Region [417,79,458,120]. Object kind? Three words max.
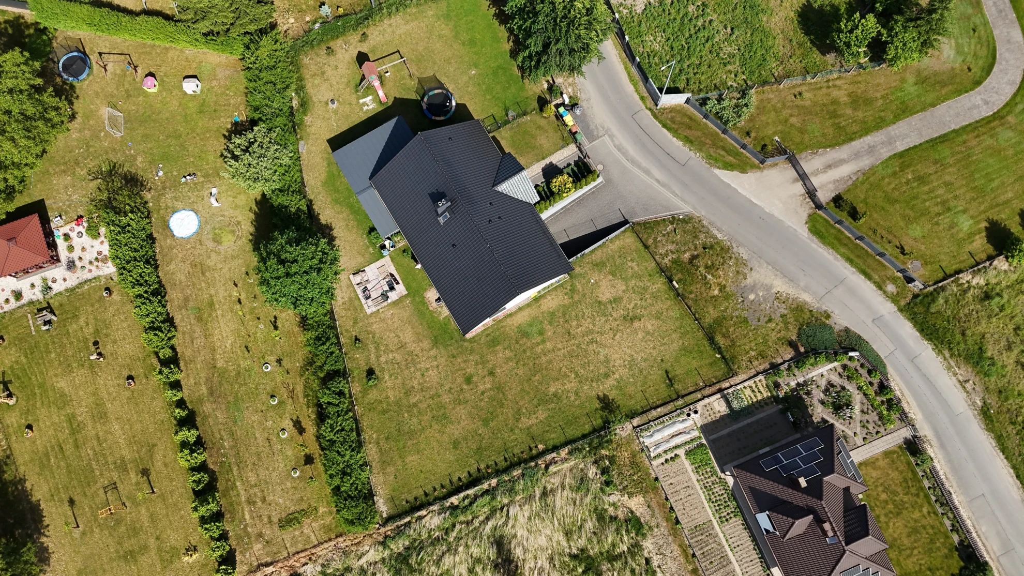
trampoline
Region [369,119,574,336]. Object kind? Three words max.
house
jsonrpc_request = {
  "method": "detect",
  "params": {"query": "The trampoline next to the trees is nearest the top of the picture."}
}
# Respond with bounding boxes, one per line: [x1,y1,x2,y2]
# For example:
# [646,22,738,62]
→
[48,41,96,86]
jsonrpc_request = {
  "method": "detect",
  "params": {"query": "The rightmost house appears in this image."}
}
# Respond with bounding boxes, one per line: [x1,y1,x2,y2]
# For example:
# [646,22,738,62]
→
[731,423,899,576]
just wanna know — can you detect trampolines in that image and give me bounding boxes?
[417,79,458,120]
[48,41,96,86]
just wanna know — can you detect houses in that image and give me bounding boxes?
[731,423,899,576]
[0,214,69,288]
[369,119,574,336]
